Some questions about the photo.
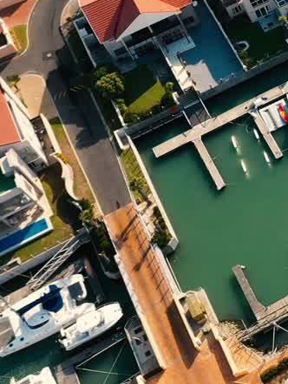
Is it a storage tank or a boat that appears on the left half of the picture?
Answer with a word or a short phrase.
boat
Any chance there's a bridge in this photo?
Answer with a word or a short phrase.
Yes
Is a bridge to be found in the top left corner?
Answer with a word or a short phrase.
No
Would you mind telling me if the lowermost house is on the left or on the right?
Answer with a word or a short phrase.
left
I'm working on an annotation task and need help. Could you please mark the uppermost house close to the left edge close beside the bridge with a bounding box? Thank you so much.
[0,85,61,202]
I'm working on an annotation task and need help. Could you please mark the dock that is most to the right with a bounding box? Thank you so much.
[262,100,288,132]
